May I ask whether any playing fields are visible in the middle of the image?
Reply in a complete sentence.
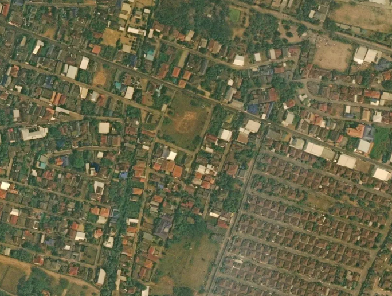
Yes, a playing field shows up in the middle of the image.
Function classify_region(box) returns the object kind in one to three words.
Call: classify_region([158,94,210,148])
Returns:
sports field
